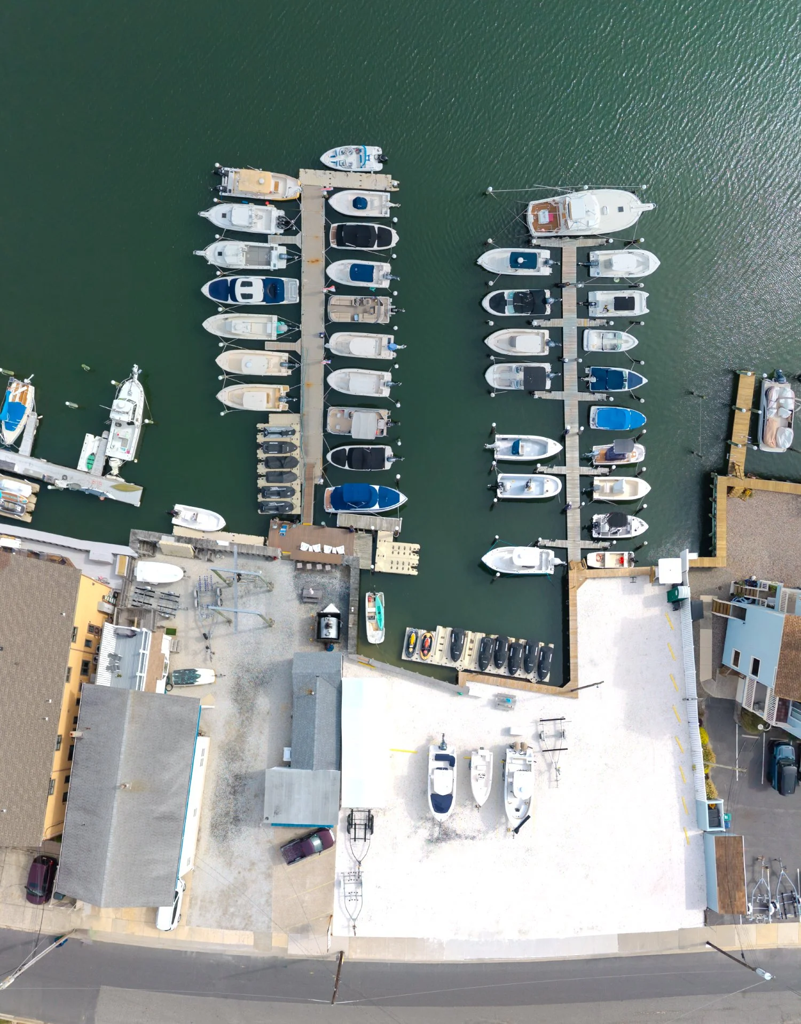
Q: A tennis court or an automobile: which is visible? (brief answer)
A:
automobile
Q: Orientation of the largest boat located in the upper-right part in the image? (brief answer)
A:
from side to side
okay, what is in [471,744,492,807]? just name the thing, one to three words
boat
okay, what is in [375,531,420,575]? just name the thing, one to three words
pier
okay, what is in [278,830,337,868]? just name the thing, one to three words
truck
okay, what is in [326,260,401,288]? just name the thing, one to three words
boat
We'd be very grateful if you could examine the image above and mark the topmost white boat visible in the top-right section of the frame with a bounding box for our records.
[522,178,655,237]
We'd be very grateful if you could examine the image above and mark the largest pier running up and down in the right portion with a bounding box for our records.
[533,238,610,563]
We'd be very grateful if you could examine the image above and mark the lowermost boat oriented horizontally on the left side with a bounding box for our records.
[172,668,216,686]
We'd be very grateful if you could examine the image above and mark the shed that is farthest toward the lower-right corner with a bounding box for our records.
[703,827,748,915]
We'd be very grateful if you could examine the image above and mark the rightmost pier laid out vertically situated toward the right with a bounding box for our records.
[723,372,755,476]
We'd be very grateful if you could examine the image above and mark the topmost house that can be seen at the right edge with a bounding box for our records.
[709,580,801,744]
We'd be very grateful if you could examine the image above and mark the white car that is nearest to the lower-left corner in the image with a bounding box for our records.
[156,877,190,934]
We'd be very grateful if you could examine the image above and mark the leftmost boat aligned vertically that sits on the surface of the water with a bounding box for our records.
[0,369,38,444]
